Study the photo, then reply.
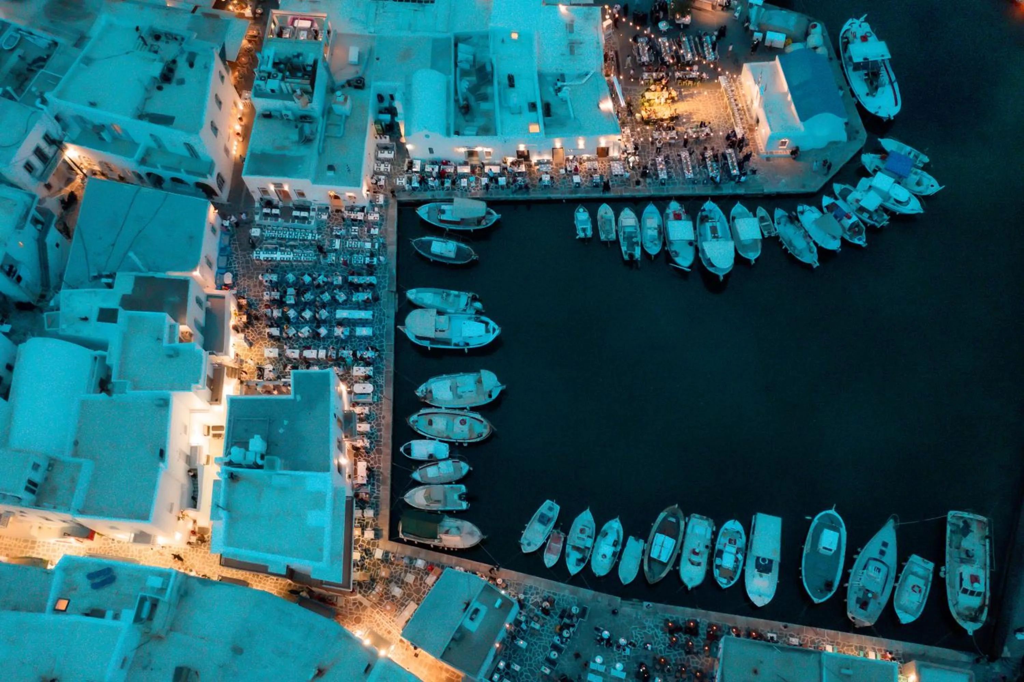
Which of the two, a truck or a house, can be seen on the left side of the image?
house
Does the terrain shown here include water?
Yes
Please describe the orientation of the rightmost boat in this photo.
up and down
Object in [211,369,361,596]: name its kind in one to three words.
house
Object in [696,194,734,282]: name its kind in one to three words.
boat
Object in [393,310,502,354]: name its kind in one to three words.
boat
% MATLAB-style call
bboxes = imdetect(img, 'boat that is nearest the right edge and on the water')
[940,513,991,656]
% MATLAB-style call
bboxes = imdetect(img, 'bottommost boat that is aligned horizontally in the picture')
[397,513,520,572]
